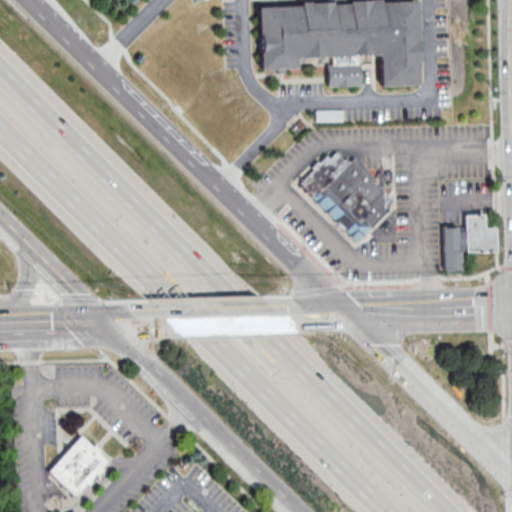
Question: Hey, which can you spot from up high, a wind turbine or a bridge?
bridge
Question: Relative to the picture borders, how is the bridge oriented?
from side to side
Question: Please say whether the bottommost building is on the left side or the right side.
left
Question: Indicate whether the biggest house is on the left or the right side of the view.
right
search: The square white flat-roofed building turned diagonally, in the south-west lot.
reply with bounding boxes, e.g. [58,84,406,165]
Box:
[50,434,112,496]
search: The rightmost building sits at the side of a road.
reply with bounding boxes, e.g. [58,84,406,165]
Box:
[466,213,499,256]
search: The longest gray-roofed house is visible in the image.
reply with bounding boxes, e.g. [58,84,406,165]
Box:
[258,2,422,87]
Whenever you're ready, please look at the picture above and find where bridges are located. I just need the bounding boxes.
[100,294,346,344]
